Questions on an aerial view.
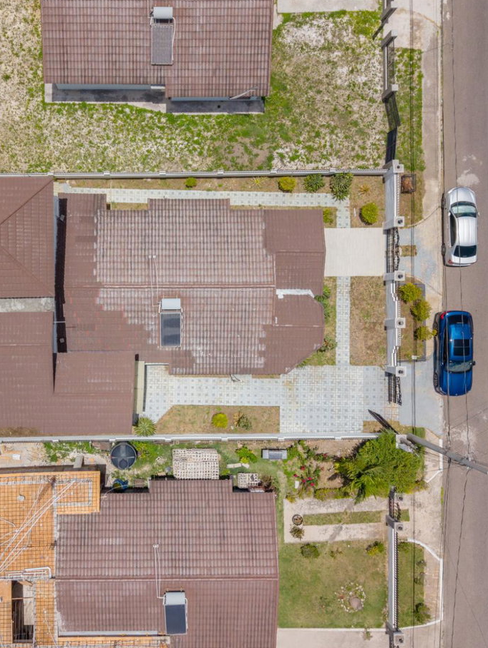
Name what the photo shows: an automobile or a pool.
automobile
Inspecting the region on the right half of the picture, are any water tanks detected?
No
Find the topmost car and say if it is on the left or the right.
right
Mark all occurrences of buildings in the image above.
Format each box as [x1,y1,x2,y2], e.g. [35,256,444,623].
[0,176,327,434]
[39,0,272,99]
[49,477,281,648]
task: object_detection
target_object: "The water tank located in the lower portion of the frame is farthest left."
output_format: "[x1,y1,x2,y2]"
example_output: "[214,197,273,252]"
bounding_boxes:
[112,439,136,466]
